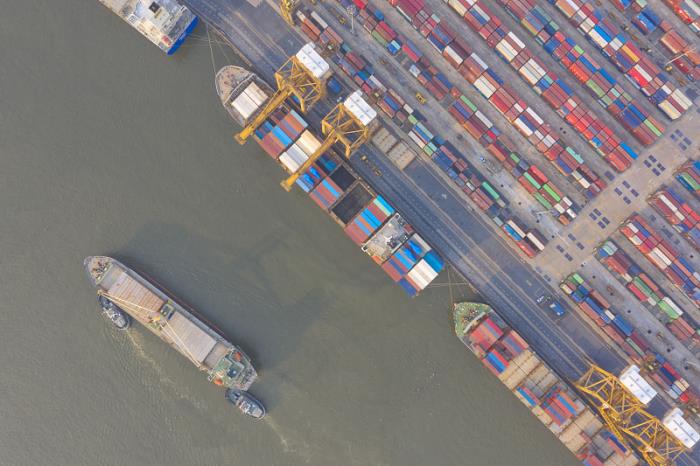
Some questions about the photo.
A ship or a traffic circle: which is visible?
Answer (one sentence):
The image shows a ship.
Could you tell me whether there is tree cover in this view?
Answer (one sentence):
No, the picture contains no tree cover.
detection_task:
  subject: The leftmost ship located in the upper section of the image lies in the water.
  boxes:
[99,0,205,61]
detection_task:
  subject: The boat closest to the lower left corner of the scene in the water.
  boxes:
[95,292,131,329]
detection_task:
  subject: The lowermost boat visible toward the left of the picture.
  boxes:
[224,389,267,420]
